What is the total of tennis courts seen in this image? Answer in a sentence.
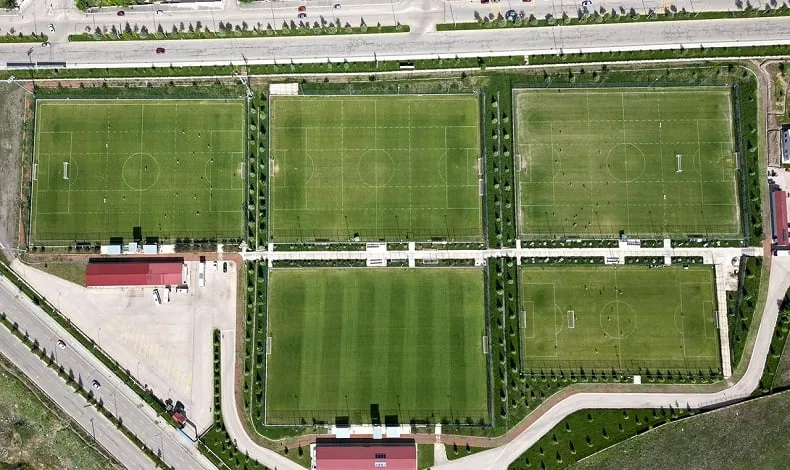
Not a single tennis court can be seen.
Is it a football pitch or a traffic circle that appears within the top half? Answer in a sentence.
The one visible within the top half is a football pitch.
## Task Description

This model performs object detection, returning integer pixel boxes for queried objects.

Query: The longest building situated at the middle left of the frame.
[85,262,190,289]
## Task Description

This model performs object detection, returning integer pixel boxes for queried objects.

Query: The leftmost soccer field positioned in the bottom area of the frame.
[265,267,491,424]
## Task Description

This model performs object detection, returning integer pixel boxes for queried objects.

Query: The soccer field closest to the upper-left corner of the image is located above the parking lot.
[31,98,248,246]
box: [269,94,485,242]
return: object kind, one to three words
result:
soccer field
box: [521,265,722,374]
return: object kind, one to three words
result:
soccer field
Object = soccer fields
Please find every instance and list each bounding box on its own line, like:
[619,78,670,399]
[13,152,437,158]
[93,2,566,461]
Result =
[265,267,491,424]
[521,265,722,374]
[31,98,248,246]
[269,94,485,242]
[512,87,743,239]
